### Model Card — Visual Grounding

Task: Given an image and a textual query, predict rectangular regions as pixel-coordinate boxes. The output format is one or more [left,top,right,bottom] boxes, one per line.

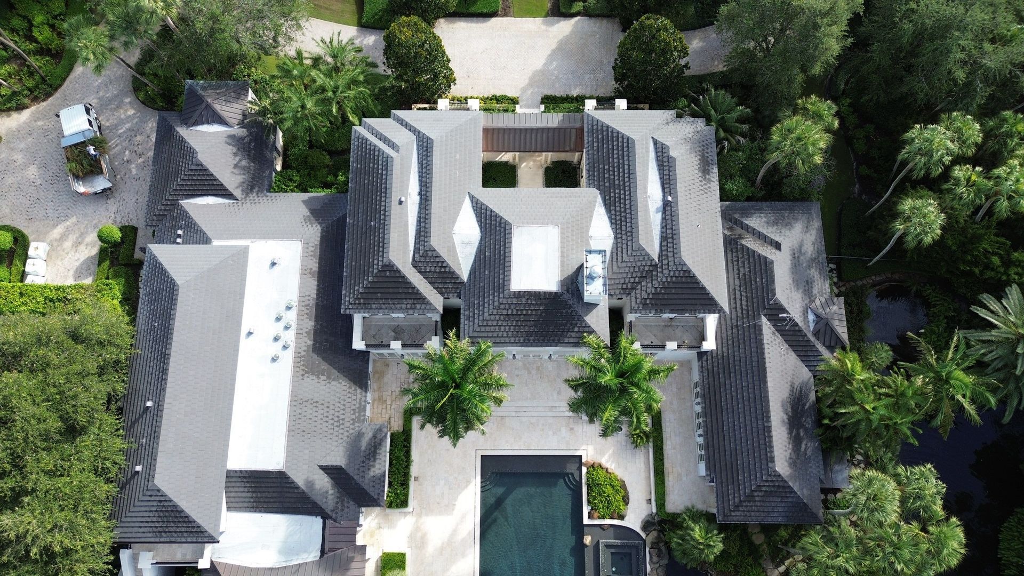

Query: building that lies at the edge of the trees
[109,79,848,576]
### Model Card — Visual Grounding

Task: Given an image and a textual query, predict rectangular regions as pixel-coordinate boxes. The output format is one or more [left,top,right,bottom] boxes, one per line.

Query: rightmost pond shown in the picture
[858,282,1024,576]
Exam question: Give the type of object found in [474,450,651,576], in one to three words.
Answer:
swimming pool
